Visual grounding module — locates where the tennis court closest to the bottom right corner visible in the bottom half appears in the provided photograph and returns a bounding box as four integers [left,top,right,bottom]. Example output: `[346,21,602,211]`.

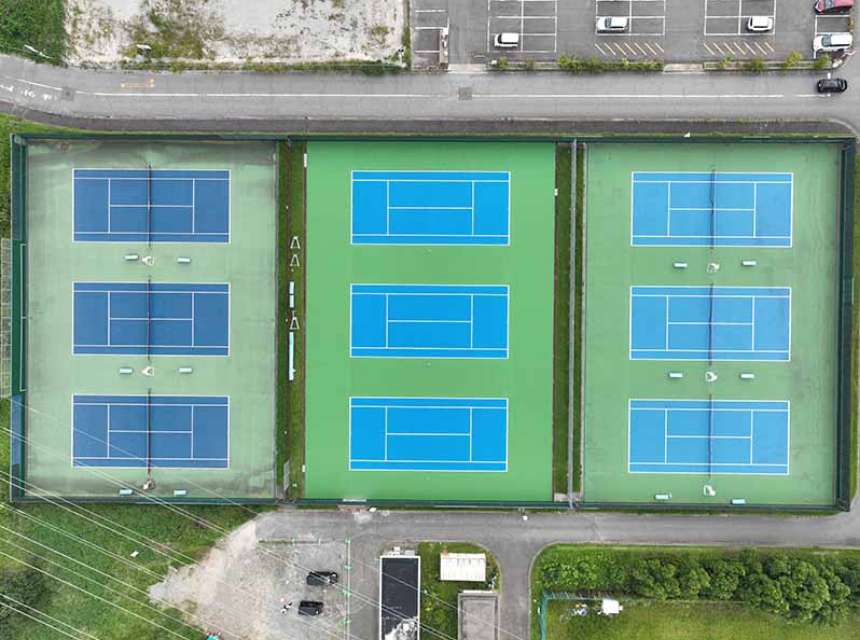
[629,400,790,475]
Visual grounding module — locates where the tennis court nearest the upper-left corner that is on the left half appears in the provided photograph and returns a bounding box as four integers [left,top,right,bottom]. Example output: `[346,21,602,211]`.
[73,169,230,243]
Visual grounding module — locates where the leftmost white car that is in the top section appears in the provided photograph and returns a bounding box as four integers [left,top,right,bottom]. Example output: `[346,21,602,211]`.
[495,34,519,50]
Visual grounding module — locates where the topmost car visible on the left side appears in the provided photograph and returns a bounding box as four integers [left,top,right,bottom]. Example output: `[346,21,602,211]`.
[308,569,338,585]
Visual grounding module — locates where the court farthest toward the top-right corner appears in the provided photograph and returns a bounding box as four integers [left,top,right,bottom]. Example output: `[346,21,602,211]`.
[632,172,793,247]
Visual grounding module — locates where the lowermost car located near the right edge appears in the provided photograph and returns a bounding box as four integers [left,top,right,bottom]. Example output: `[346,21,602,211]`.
[815,78,847,93]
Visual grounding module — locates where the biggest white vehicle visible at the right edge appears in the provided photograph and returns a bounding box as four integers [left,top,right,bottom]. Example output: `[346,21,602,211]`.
[814,34,851,52]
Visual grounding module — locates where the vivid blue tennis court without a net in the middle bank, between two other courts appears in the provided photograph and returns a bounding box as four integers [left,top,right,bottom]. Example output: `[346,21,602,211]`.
[350,284,509,359]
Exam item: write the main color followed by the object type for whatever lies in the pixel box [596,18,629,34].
white car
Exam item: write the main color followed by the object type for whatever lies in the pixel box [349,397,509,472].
blue tennis court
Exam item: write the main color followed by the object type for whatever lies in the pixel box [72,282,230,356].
blue tennis court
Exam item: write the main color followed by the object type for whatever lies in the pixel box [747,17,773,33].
white car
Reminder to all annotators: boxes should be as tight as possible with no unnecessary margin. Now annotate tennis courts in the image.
[629,400,790,475]
[73,169,230,243]
[72,395,229,469]
[349,397,509,472]
[630,286,791,361]
[72,282,230,356]
[351,170,510,245]
[632,172,793,247]
[350,284,509,359]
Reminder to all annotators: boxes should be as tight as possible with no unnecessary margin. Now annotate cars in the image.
[814,34,851,52]
[815,78,847,93]
[747,17,773,33]
[308,569,338,585]
[495,34,519,50]
[816,0,852,14]
[299,601,323,616]
[596,18,629,34]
